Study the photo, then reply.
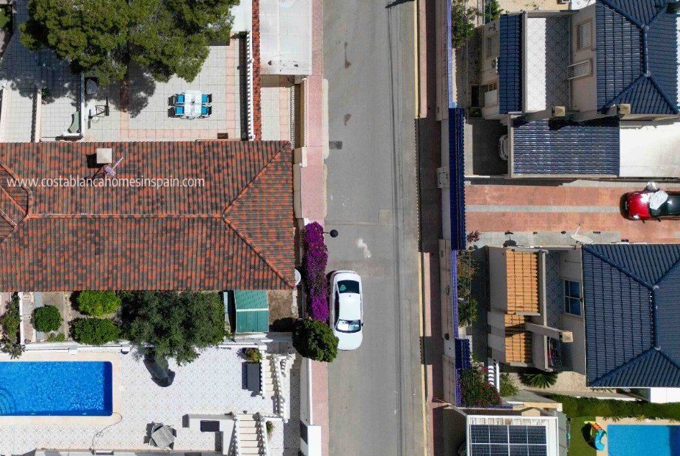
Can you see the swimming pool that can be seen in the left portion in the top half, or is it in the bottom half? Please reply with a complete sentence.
The swimming pool that can be seen in the left portion is in the bottom half of the image.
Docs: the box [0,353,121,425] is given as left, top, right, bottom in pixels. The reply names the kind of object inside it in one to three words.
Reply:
swimming pool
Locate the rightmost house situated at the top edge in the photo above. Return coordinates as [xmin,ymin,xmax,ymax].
[483,0,680,124]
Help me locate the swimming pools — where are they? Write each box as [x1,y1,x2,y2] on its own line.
[0,353,121,425]
[604,421,680,456]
